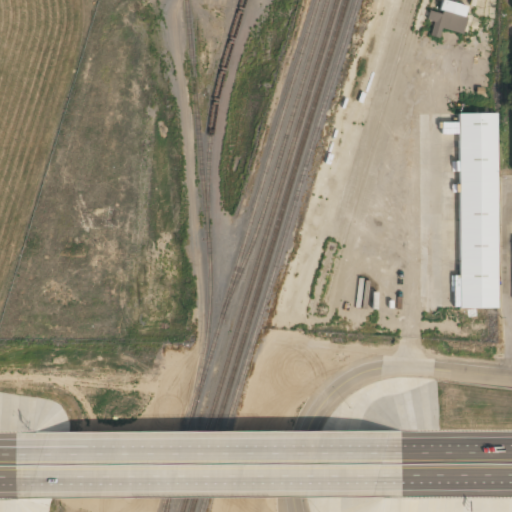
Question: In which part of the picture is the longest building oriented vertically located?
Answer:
right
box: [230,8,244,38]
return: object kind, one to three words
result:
rail car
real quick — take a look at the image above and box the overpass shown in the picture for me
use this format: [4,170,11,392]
[17,431,402,498]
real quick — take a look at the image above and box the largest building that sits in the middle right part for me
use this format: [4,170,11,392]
[440,113,500,308]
